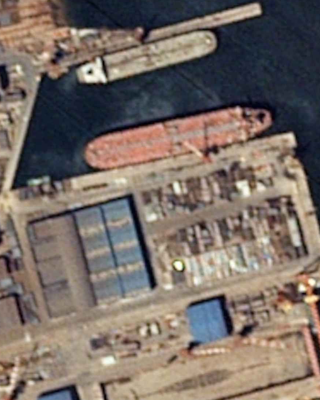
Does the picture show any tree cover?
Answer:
No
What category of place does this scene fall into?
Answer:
port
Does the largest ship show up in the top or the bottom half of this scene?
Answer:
top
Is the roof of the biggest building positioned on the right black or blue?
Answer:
blue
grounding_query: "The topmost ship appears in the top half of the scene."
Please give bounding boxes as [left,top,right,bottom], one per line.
[78,37,217,85]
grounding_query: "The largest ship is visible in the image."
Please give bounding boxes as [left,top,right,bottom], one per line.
[84,102,274,167]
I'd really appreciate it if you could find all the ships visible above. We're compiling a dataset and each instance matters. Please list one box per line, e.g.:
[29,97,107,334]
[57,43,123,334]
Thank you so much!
[78,37,217,85]
[84,102,274,167]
